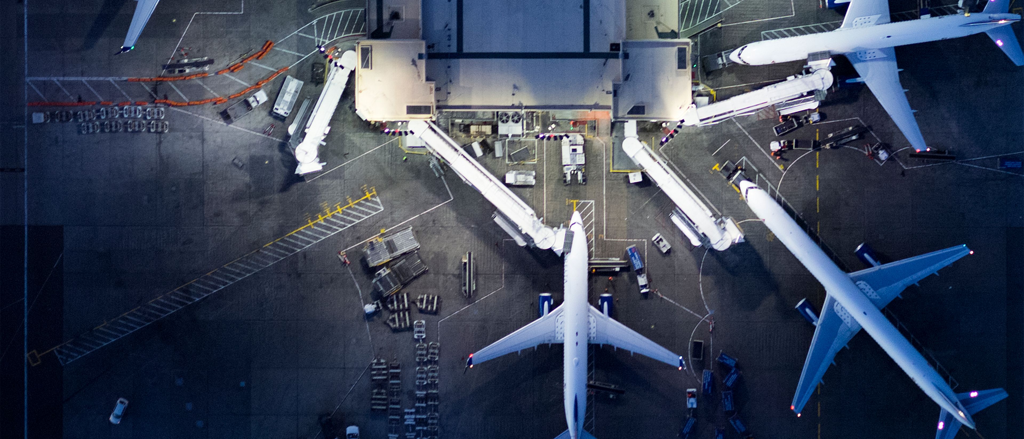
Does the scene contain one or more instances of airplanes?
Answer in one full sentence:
Yes, there's an airplane here.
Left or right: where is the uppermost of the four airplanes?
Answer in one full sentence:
The uppermost of the four airplanes is on the left side of the image.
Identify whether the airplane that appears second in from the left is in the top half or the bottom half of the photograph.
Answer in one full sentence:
It is in the bottom half that the airplane that appears second in from the left appears.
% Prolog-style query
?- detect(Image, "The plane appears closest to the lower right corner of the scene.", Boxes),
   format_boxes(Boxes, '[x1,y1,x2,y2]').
[739,180,1011,439]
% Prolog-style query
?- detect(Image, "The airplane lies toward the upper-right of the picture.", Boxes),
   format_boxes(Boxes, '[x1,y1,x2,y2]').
[730,0,1024,153]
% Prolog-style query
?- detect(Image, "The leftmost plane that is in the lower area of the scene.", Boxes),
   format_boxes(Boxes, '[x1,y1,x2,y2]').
[463,211,689,439]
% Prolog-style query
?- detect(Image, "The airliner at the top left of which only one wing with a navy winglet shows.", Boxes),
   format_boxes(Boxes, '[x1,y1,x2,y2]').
[110,0,159,56]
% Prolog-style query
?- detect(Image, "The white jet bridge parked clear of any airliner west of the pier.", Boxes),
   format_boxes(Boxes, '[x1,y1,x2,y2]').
[288,49,356,174]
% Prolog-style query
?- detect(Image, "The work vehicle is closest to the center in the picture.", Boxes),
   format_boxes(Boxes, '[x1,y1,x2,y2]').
[505,169,536,186]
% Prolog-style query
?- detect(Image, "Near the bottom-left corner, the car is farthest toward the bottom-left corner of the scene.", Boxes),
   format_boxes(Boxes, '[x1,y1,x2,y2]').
[109,396,130,426]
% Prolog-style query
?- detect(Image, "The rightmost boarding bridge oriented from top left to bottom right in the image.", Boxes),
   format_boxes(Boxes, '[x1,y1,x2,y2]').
[621,121,744,251]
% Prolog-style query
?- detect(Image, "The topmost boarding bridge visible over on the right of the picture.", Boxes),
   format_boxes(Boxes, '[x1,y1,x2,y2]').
[681,51,835,127]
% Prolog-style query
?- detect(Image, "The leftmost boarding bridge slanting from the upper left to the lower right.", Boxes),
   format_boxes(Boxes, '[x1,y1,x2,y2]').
[408,120,574,257]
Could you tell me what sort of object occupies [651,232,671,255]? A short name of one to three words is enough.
vehicle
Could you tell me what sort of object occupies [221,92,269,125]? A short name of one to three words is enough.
truck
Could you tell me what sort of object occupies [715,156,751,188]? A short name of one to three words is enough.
work vehicle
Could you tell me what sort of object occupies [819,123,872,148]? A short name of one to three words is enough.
work vehicle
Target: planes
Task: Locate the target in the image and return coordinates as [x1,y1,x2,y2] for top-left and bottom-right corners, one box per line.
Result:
[463,211,689,439]
[730,0,1024,153]
[739,180,1011,439]
[110,0,159,56]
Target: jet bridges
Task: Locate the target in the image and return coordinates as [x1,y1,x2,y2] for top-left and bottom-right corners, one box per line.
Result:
[288,49,356,174]
[408,120,574,257]
[681,51,835,127]
[621,121,744,251]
